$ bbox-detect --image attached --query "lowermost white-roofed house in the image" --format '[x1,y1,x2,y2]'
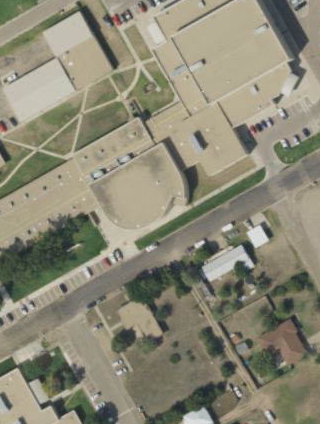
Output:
[178,404,216,424]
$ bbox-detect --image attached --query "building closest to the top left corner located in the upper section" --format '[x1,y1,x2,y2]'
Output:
[2,12,116,122]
